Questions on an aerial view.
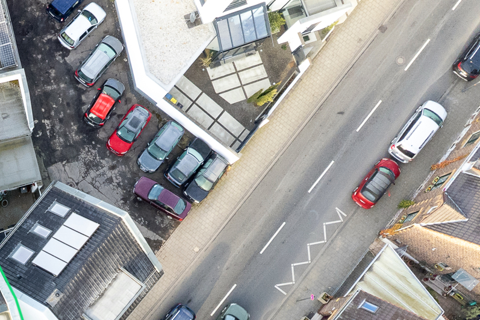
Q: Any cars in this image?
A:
Yes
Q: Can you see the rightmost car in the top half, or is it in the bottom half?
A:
top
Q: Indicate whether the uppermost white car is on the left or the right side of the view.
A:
left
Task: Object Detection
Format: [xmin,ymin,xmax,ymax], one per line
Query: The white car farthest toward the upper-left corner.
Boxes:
[54,1,107,54]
